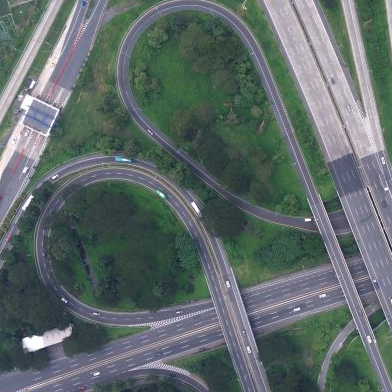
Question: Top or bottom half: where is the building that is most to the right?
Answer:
bottom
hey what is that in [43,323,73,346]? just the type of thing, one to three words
building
